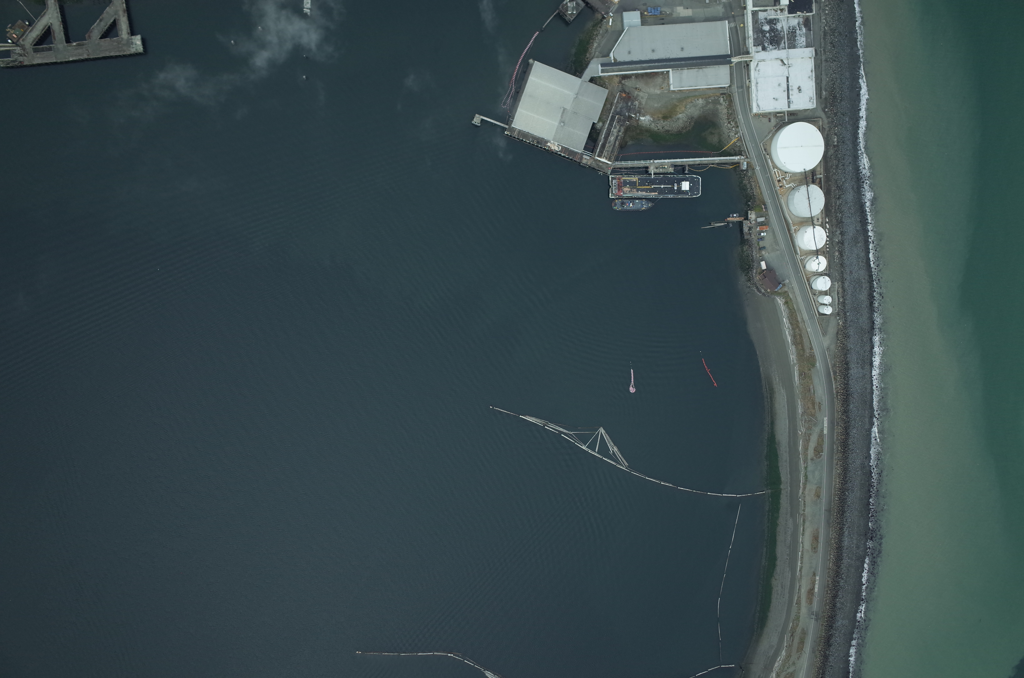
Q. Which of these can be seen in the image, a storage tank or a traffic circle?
storage tank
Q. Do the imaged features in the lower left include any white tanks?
No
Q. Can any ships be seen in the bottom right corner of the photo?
No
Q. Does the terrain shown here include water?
Yes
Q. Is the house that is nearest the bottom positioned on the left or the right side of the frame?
right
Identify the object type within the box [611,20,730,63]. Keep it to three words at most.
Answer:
building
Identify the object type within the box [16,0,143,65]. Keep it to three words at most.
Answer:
pier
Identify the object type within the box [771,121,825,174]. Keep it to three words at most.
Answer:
storage tank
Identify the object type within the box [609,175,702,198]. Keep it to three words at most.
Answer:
ship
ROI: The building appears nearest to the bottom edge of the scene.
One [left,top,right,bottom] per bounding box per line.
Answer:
[757,269,779,292]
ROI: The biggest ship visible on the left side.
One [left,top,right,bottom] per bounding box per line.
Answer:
[6,20,27,42]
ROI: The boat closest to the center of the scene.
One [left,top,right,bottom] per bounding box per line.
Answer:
[611,198,654,211]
